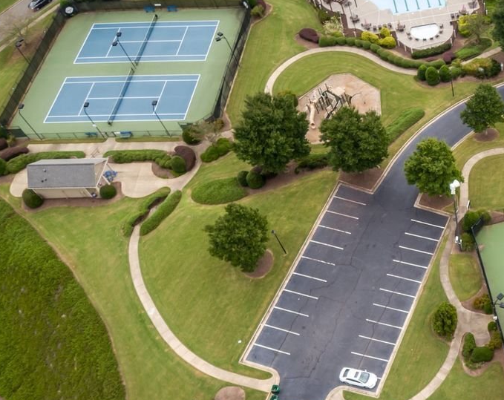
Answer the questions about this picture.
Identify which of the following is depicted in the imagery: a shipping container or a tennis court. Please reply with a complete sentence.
The image shows a tennis court.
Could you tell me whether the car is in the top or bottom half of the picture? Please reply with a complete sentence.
Seen from above, the car lies in the bottom half of the view.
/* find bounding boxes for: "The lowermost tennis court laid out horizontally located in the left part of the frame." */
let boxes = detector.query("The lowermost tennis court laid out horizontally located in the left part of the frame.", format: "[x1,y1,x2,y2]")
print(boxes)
[14,57,223,126]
